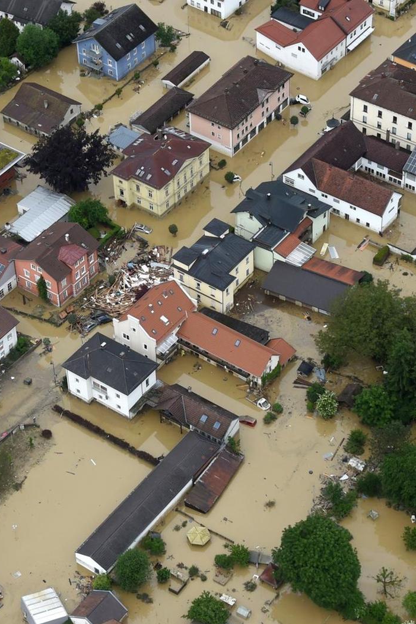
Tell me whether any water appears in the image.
Yes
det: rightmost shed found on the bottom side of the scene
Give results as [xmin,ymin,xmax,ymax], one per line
[337,381,364,410]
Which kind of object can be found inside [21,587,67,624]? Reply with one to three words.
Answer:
building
